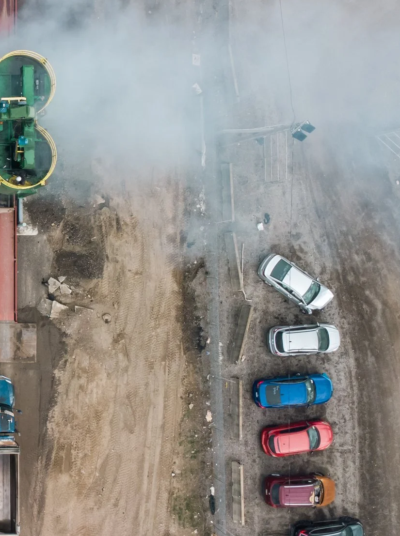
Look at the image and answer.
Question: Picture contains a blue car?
Yes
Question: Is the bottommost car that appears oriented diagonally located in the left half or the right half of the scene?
right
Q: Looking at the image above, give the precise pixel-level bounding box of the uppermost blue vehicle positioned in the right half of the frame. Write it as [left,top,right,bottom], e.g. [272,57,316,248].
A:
[249,372,333,408]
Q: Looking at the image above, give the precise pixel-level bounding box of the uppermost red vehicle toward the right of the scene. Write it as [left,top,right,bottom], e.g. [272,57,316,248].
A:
[257,418,333,456]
